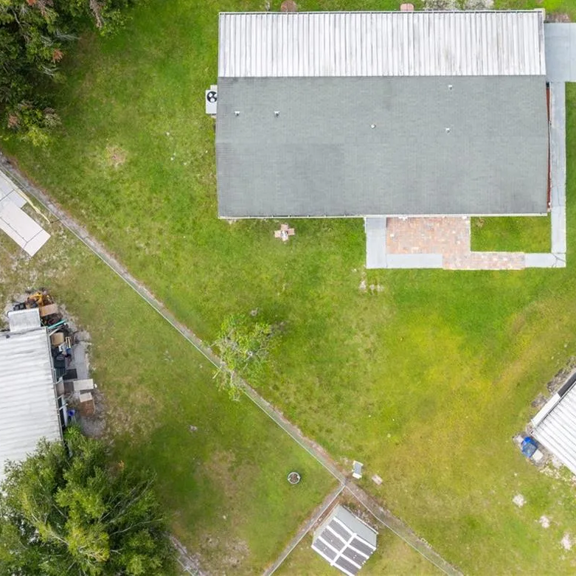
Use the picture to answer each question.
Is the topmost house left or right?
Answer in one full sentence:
The topmost house is on the right side of the image.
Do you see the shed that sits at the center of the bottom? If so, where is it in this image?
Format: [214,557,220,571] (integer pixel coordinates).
[311,502,381,576]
